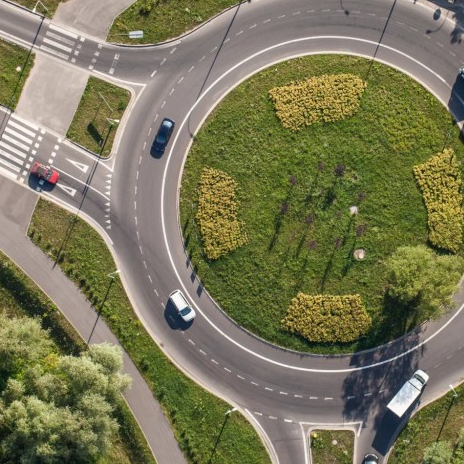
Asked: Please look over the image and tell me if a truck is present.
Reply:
Yes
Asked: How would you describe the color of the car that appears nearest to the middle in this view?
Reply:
white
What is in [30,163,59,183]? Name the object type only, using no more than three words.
car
